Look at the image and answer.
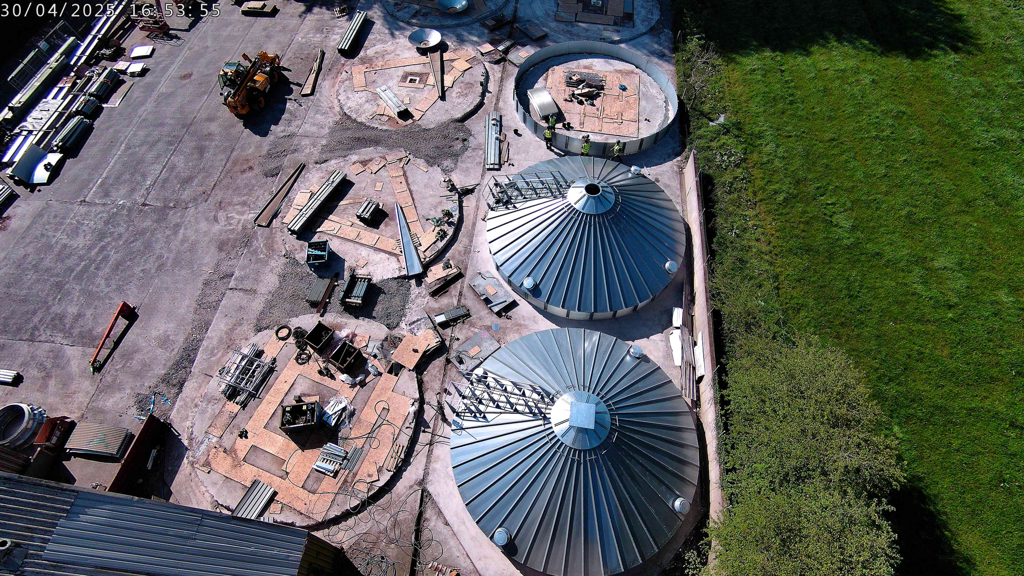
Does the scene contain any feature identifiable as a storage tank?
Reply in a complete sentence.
Yes, a storage tank can be made out from above.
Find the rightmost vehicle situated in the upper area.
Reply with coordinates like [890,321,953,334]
[200,35,287,119]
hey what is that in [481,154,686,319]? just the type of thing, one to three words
storage tank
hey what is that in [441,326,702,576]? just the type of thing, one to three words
storage tank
